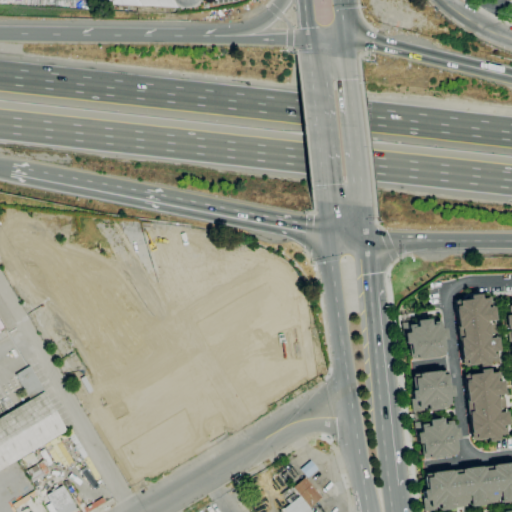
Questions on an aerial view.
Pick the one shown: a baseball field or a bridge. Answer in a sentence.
I can see a bridge in this picture.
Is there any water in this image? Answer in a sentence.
No, there is no water in the image.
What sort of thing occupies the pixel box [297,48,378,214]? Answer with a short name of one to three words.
bridge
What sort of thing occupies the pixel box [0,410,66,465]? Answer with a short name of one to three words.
building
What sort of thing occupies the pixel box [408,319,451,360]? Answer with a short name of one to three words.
building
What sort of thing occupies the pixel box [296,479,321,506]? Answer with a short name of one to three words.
shed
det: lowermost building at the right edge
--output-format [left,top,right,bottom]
[424,466,512,510]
